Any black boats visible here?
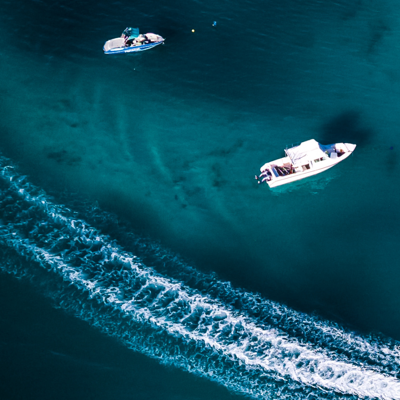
No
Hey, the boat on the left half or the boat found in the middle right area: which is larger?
the boat found in the middle right area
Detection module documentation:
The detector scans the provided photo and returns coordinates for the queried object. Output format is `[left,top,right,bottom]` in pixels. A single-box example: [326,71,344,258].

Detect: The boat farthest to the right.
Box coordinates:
[250,144,358,192]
